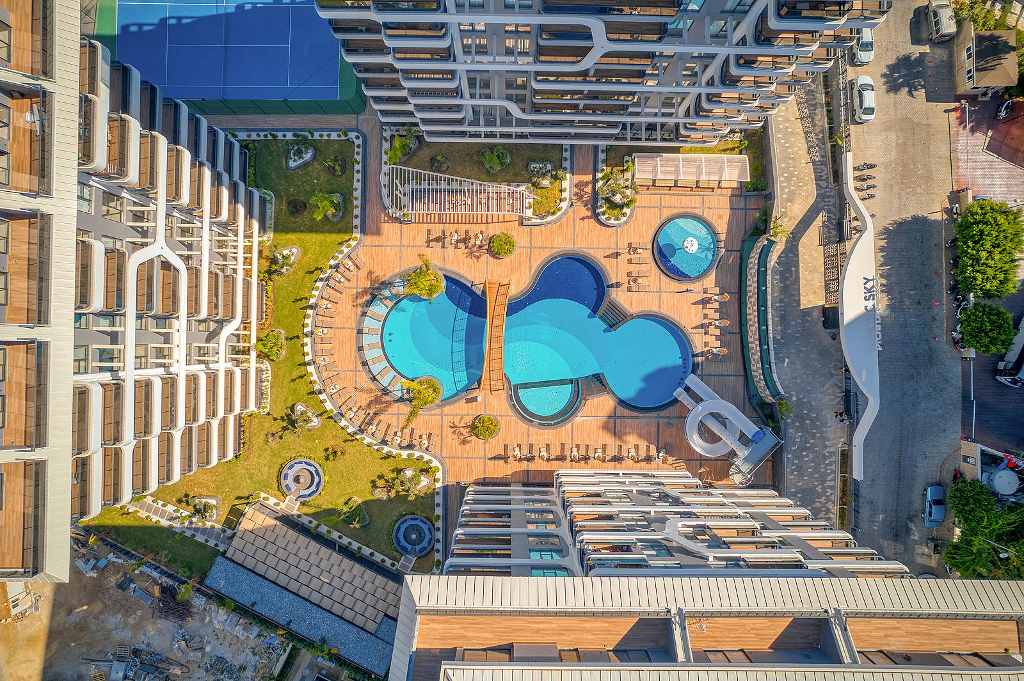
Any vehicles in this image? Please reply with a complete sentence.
Yes, the image includes a vehicle.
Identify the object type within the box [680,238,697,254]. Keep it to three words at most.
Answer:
fountain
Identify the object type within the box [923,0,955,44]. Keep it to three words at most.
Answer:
vehicle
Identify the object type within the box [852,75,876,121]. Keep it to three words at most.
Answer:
car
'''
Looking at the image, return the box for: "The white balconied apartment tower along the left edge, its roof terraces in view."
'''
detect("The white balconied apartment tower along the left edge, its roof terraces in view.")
[0,0,256,584]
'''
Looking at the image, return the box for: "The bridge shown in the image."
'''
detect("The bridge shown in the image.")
[482,281,509,393]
